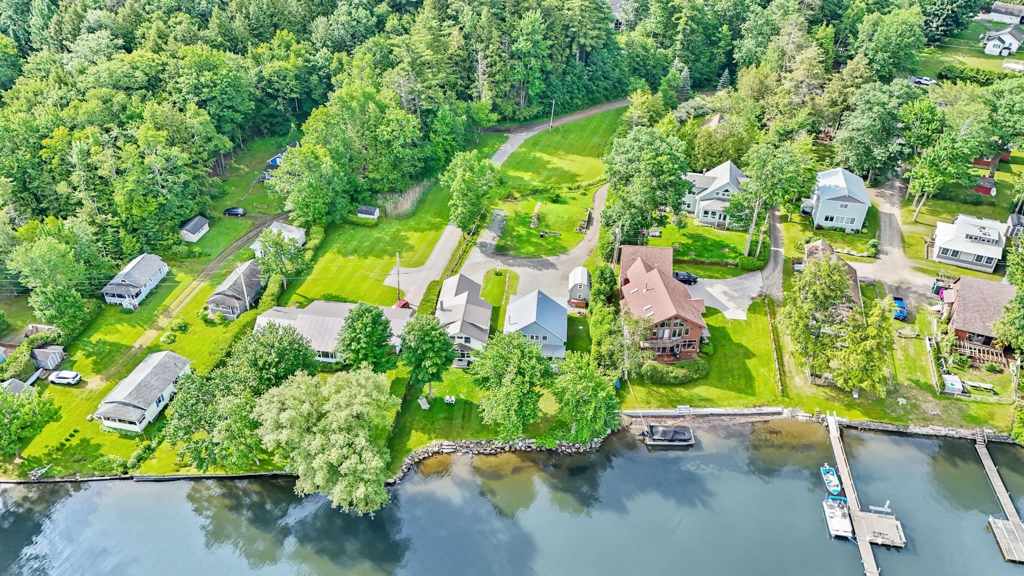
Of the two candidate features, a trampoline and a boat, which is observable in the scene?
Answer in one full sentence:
This aerial view contains a boat.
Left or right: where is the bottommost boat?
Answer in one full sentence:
The bottommost boat is on the right side of the image.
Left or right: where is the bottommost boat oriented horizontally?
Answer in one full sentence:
The bottommost boat oriented horizontally is on the right side of the image.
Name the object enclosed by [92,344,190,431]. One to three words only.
house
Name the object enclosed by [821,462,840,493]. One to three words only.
boat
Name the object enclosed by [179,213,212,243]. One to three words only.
shed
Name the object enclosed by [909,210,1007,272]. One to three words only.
house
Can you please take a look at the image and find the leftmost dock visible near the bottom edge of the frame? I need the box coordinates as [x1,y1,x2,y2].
[827,411,908,576]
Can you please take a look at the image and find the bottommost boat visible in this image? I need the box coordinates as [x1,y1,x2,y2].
[823,492,855,538]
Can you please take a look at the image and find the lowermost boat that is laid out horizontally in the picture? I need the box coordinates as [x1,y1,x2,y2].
[640,427,698,449]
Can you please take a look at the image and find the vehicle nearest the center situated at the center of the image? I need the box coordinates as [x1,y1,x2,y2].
[396,298,410,314]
